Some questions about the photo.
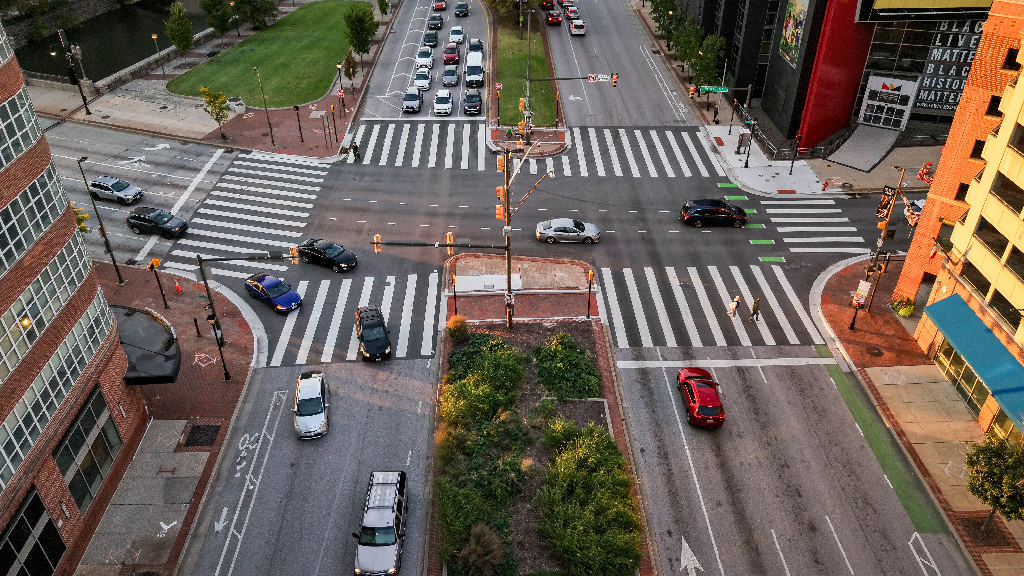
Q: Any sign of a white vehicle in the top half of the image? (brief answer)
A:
Yes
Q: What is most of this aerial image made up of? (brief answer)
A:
paved ground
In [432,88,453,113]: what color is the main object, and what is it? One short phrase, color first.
white car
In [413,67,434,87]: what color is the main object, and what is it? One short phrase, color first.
white car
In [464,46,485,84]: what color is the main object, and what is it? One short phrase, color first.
white vehicle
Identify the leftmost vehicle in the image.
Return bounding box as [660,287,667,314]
[84,174,143,205]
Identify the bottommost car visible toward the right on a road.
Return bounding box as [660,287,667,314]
[677,361,727,424]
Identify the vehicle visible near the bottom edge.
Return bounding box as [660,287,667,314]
[350,469,407,576]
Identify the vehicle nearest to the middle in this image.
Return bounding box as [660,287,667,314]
[536,217,602,244]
